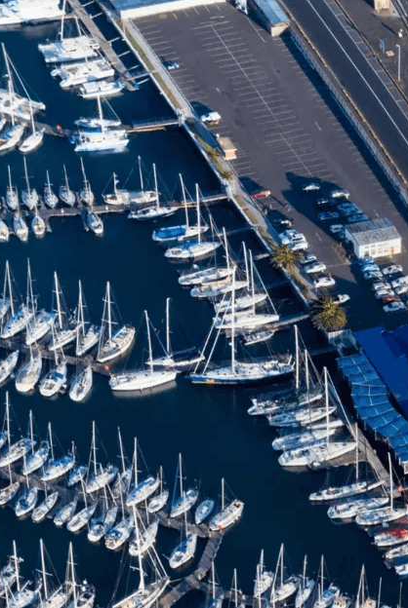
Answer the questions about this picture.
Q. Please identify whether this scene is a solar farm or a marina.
marina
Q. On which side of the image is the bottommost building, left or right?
right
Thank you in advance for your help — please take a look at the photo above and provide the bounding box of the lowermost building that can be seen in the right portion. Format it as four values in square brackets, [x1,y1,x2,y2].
[329,321,408,481]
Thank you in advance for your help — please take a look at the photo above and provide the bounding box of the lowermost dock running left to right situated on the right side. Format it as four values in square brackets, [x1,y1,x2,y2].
[192,571,313,608]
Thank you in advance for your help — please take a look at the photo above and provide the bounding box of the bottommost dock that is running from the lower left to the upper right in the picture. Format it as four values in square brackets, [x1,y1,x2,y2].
[143,525,228,608]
